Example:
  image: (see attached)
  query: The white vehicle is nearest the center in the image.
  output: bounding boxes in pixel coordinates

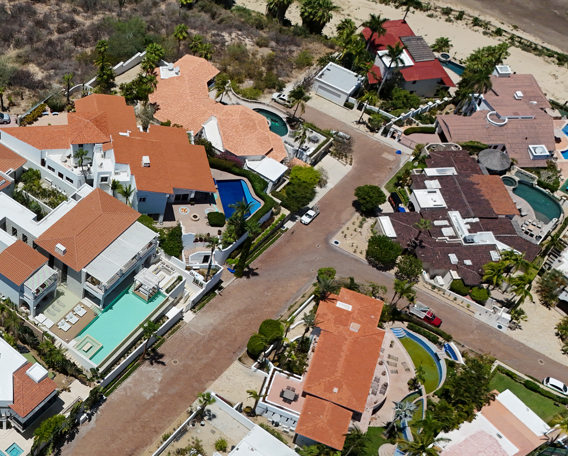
[300,207,319,225]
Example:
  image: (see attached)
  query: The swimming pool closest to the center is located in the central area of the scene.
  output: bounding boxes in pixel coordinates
[213,177,265,223]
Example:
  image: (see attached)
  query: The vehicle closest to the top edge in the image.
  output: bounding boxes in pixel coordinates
[271,93,294,107]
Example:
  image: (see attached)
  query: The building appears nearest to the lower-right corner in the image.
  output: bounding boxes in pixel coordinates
[428,389,550,456]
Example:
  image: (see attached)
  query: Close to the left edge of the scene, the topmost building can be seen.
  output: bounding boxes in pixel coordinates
[0,93,216,215]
